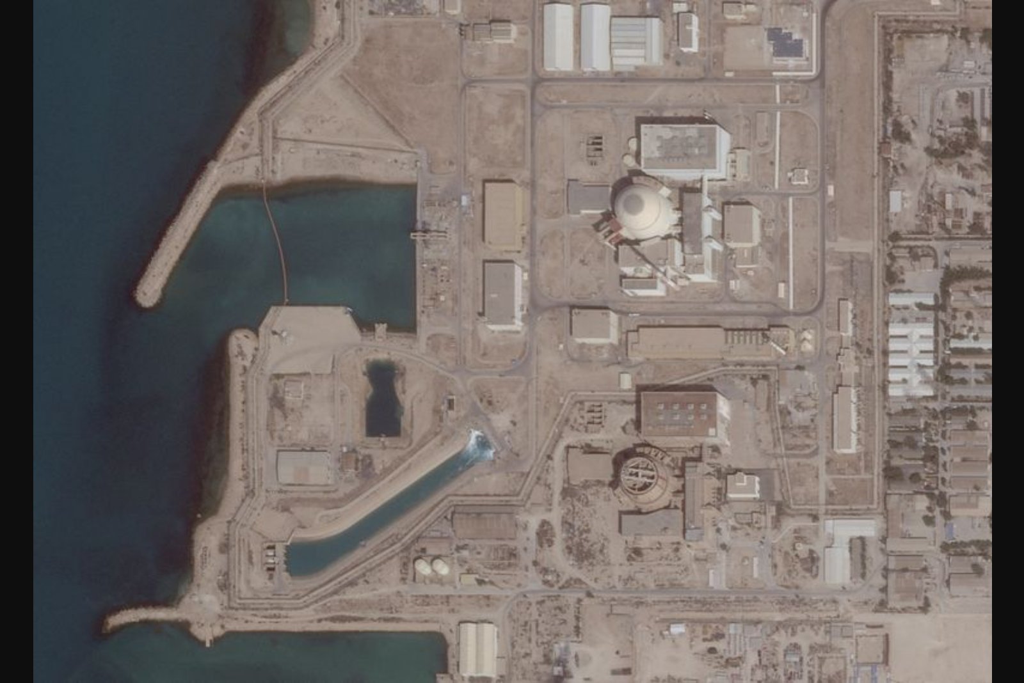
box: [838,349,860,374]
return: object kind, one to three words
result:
building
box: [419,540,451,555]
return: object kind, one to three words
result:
shed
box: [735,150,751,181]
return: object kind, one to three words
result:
house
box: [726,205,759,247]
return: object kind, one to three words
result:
building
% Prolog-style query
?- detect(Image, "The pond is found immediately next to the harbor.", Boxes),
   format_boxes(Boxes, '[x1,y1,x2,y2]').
[365,360,403,448]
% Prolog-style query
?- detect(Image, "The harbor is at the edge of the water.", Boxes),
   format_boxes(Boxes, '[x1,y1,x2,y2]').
[259,306,363,373]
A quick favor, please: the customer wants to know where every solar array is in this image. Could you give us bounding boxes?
[767,27,802,56]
